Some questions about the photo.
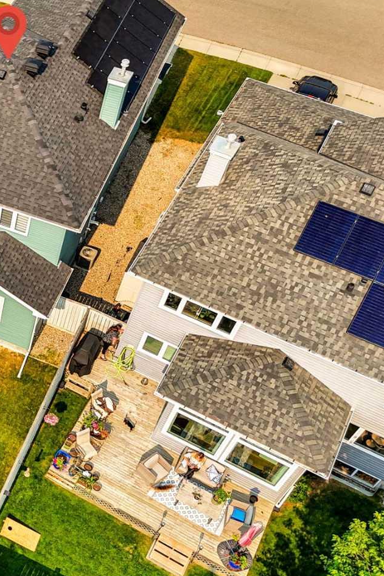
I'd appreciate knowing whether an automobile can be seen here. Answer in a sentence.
Yes, the photo shows an automobile.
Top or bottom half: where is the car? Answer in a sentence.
The top half of the photo is where the car is.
